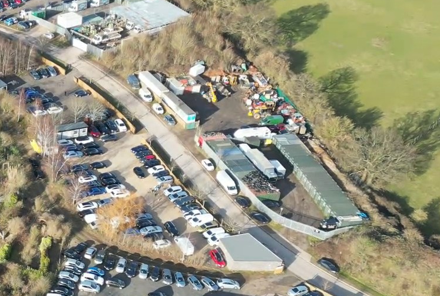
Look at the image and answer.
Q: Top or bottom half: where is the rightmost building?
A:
bottom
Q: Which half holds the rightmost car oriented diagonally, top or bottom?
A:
bottom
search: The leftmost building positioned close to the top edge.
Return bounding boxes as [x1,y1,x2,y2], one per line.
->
[57,11,82,30]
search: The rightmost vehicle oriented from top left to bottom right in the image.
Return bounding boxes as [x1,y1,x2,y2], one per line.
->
[316,256,343,276]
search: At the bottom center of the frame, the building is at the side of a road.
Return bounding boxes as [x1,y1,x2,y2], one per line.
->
[218,233,283,273]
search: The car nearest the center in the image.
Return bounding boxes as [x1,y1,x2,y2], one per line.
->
[201,159,214,172]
